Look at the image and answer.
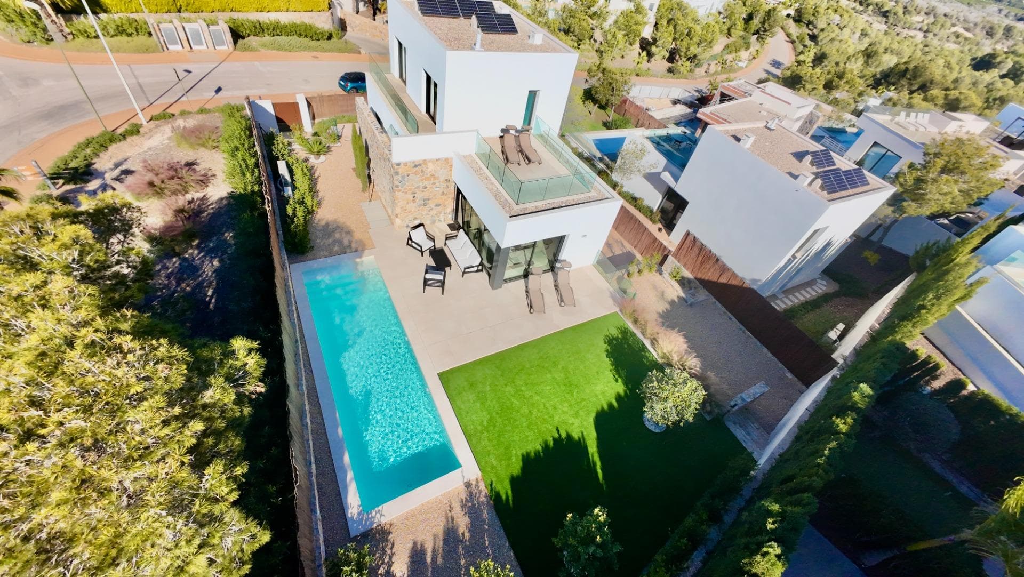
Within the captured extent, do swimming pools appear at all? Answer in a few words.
Yes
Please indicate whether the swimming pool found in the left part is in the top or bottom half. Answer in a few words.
bottom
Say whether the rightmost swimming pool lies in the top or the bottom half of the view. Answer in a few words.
top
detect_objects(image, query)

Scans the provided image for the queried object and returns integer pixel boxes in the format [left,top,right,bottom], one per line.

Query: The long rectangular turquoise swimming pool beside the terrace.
[289,247,481,536]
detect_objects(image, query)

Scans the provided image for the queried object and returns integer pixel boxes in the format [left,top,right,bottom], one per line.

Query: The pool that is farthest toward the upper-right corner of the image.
[816,119,856,154]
